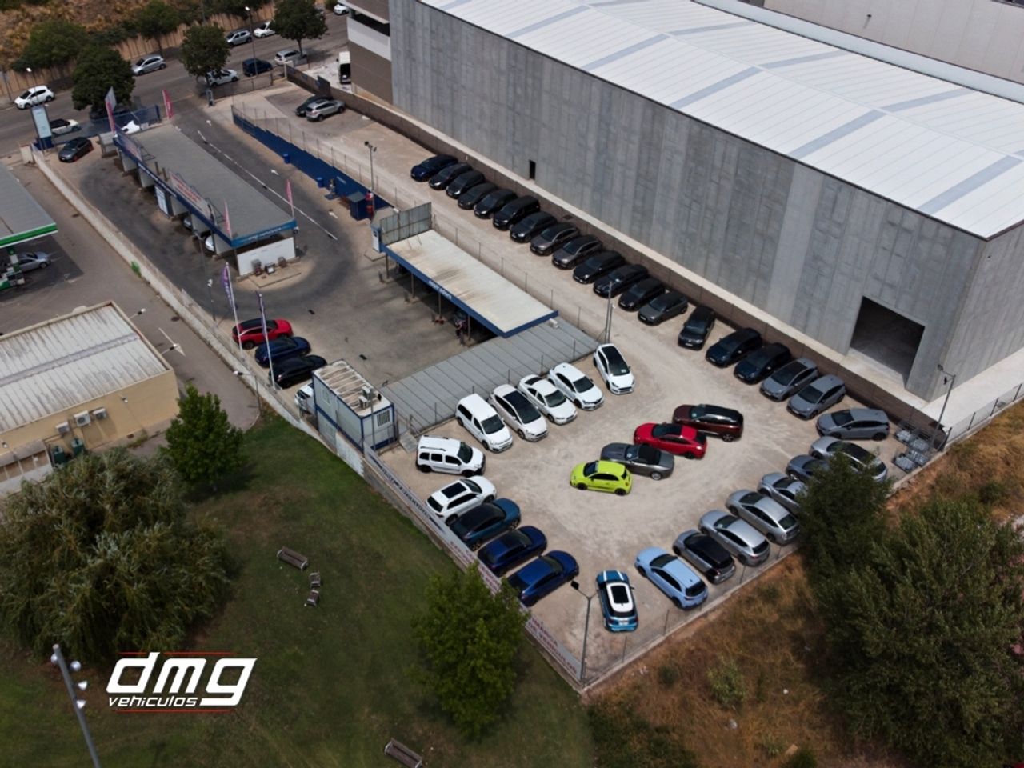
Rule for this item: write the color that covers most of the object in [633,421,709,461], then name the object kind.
red car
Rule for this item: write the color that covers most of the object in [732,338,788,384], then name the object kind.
black car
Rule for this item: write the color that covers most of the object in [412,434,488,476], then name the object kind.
white car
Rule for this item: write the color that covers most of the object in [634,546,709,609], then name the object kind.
blue car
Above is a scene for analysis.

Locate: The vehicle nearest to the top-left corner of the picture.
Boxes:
[14,86,57,108]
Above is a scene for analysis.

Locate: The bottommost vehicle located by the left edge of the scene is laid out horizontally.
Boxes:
[0,247,57,271]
